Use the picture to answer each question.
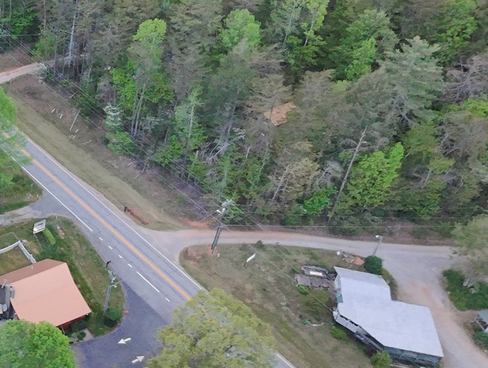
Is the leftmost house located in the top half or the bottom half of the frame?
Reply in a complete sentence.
The bottom half of the photo is where the leftmost house is.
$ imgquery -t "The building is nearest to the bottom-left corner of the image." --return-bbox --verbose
[0,261,91,337]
